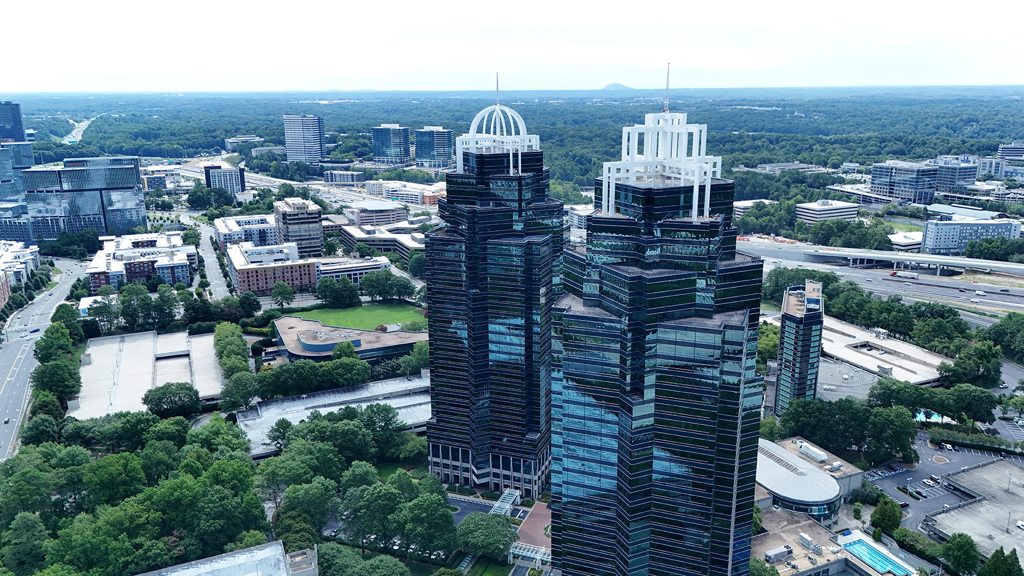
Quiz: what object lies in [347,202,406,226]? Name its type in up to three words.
building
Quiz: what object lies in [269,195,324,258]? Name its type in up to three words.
building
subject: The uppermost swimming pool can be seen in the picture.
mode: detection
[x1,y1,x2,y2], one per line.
[917,411,943,423]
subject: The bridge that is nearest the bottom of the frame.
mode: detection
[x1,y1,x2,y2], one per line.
[736,241,1024,281]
